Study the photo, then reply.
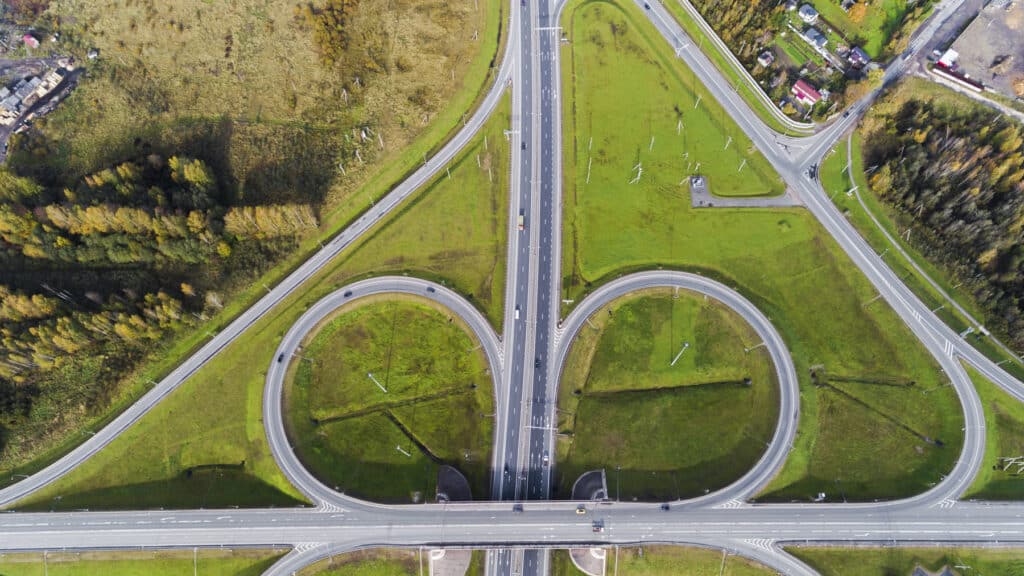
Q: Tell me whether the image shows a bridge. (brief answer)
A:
Yes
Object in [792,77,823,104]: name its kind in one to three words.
house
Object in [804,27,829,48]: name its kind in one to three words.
house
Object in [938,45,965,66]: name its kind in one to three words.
building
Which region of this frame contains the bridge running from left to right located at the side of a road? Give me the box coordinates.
[430,500,613,550]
